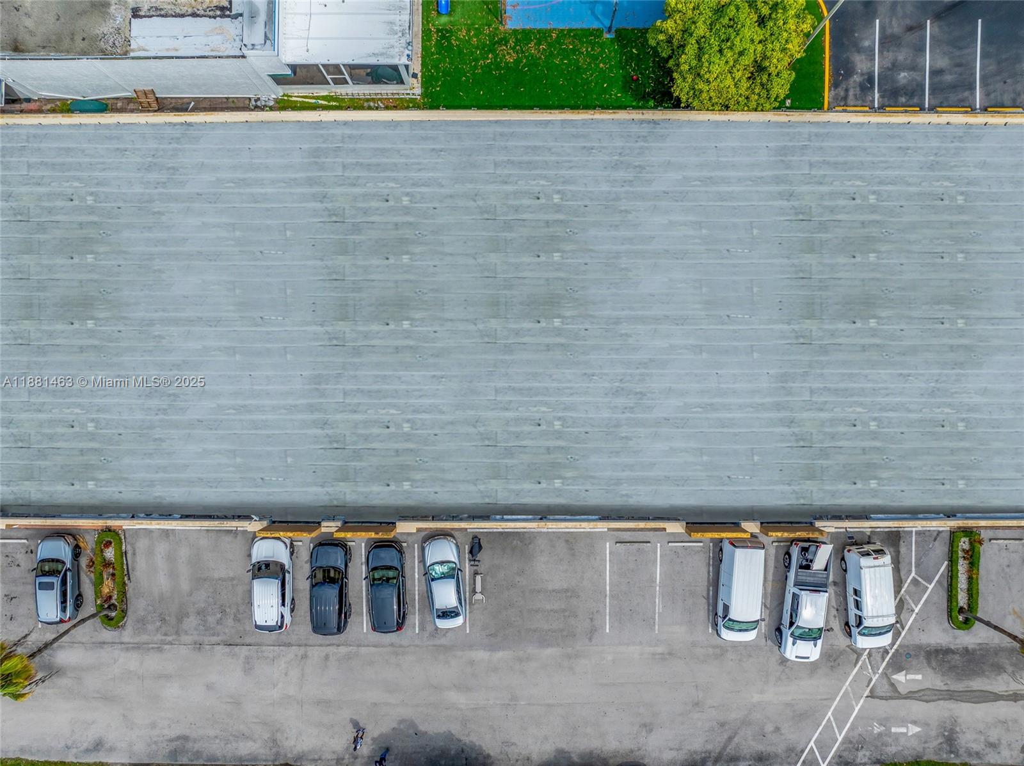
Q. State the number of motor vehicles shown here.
8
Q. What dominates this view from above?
buildings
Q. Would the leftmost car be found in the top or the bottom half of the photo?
bottom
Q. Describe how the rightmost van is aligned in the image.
up and down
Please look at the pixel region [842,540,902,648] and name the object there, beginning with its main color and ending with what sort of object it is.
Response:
white van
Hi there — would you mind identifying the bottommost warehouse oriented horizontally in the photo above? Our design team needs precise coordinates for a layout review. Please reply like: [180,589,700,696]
[0,111,1024,539]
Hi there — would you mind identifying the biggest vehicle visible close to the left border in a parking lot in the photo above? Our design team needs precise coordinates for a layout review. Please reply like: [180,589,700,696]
[28,533,86,625]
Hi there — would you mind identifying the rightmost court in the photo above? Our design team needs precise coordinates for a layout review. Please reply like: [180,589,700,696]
[506,0,722,36]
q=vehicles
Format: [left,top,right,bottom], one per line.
[421,535,467,630]
[303,538,352,636]
[28,533,86,625]
[716,539,770,642]
[842,540,902,648]
[775,539,835,662]
[245,539,297,633]
[361,540,407,634]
